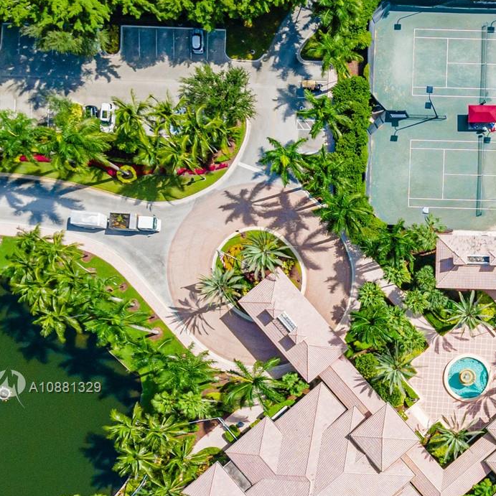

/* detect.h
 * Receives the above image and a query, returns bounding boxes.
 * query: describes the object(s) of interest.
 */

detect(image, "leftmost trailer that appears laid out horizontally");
[65,211,105,229]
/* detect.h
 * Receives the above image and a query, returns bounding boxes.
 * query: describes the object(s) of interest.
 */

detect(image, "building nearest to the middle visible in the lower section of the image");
[238,272,348,383]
